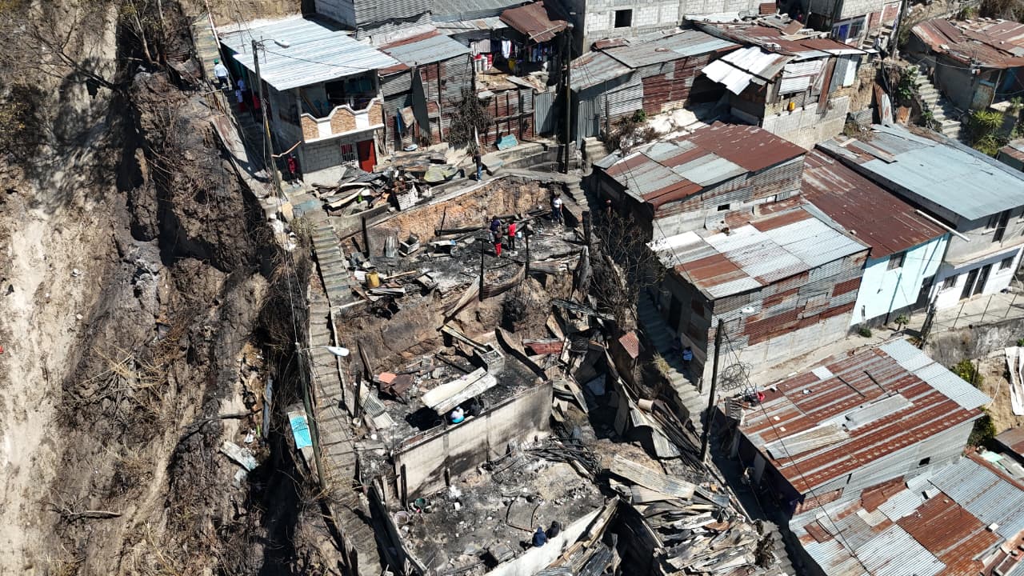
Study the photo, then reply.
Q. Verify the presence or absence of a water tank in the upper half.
No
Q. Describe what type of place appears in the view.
residential area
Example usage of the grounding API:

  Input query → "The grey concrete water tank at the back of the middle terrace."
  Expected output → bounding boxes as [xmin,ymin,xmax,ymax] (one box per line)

[478,346,505,375]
